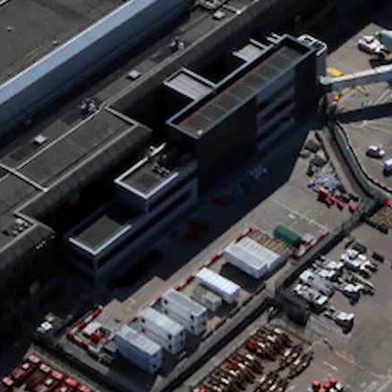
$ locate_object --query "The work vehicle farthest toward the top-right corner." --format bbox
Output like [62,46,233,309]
[357,34,384,54]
